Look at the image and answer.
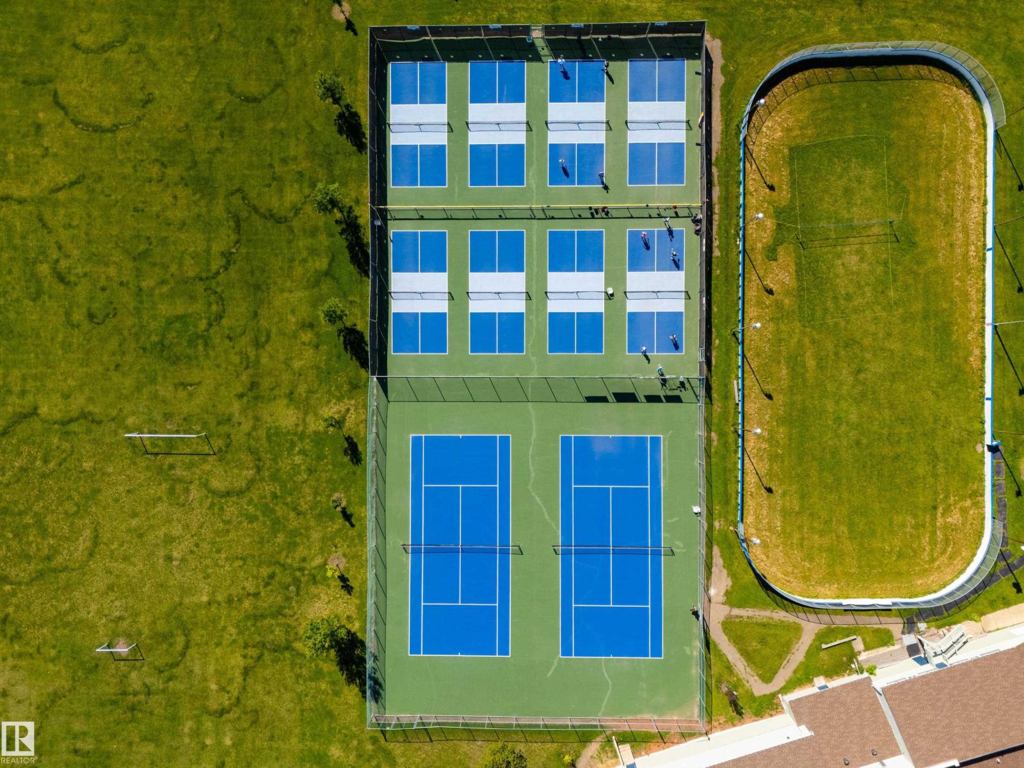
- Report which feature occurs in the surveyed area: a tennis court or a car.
tennis court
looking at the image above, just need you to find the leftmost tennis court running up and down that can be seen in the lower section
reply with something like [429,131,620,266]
[409,435,511,656]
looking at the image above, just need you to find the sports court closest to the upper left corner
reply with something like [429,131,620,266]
[391,62,447,187]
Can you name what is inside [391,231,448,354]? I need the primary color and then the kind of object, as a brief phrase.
blue sports court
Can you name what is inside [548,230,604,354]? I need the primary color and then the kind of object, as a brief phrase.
blue sports court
